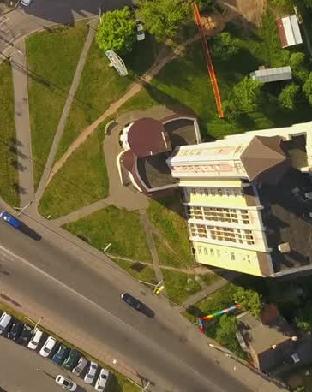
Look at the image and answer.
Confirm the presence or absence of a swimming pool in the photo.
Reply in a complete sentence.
No, there is no swimming pool in the image.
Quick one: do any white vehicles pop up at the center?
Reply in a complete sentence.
No, no white vehicle can be made out at the center.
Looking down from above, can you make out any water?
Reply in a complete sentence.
No, the scene doesn't show any water.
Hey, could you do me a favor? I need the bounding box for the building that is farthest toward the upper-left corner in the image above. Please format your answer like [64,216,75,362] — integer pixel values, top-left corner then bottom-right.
[109,117,200,191]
